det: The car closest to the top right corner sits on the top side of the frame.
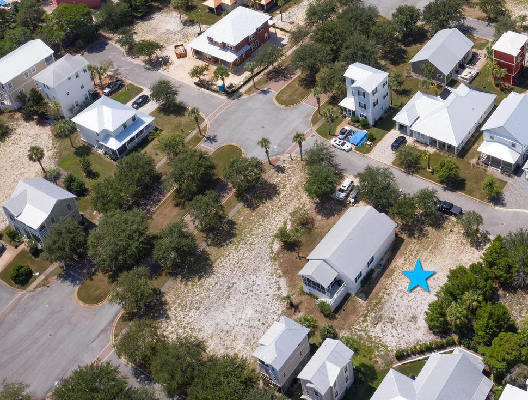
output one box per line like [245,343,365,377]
[390,132,410,151]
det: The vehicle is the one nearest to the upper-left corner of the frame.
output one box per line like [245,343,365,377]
[100,77,128,95]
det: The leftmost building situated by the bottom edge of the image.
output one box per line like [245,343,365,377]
[251,317,311,395]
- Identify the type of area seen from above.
residential area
